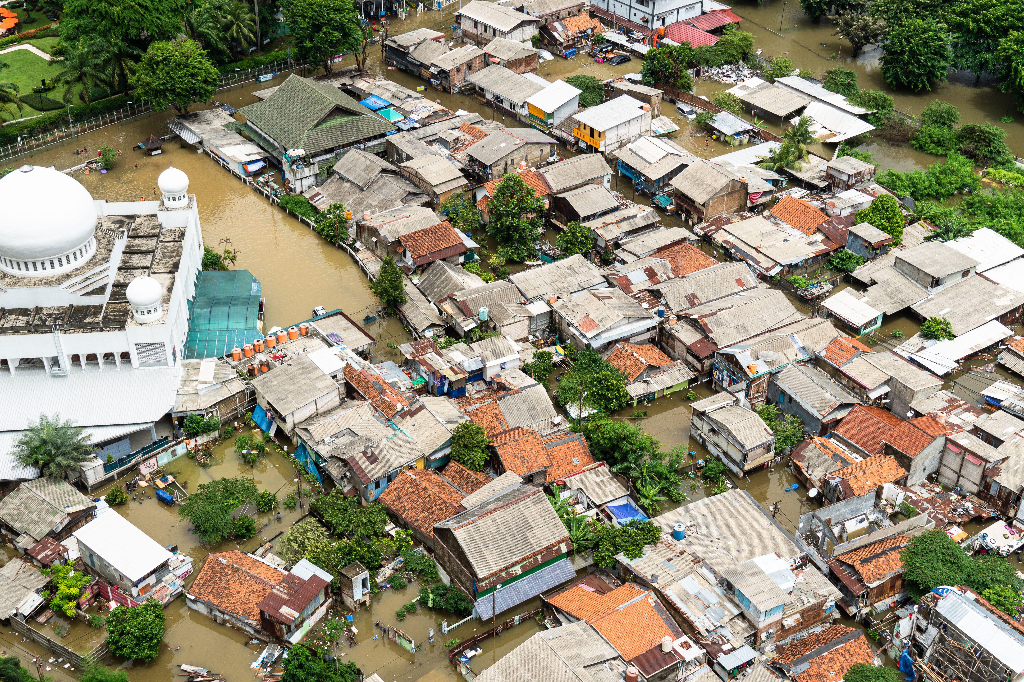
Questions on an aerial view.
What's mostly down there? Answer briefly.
buildings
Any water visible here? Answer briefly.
Yes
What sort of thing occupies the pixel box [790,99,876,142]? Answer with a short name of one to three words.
shed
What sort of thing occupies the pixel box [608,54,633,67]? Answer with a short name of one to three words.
vehicle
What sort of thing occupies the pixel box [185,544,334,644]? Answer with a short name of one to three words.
house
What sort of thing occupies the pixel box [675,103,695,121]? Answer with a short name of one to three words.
car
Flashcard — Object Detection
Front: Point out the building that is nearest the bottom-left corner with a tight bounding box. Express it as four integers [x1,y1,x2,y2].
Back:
[0,558,51,635]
